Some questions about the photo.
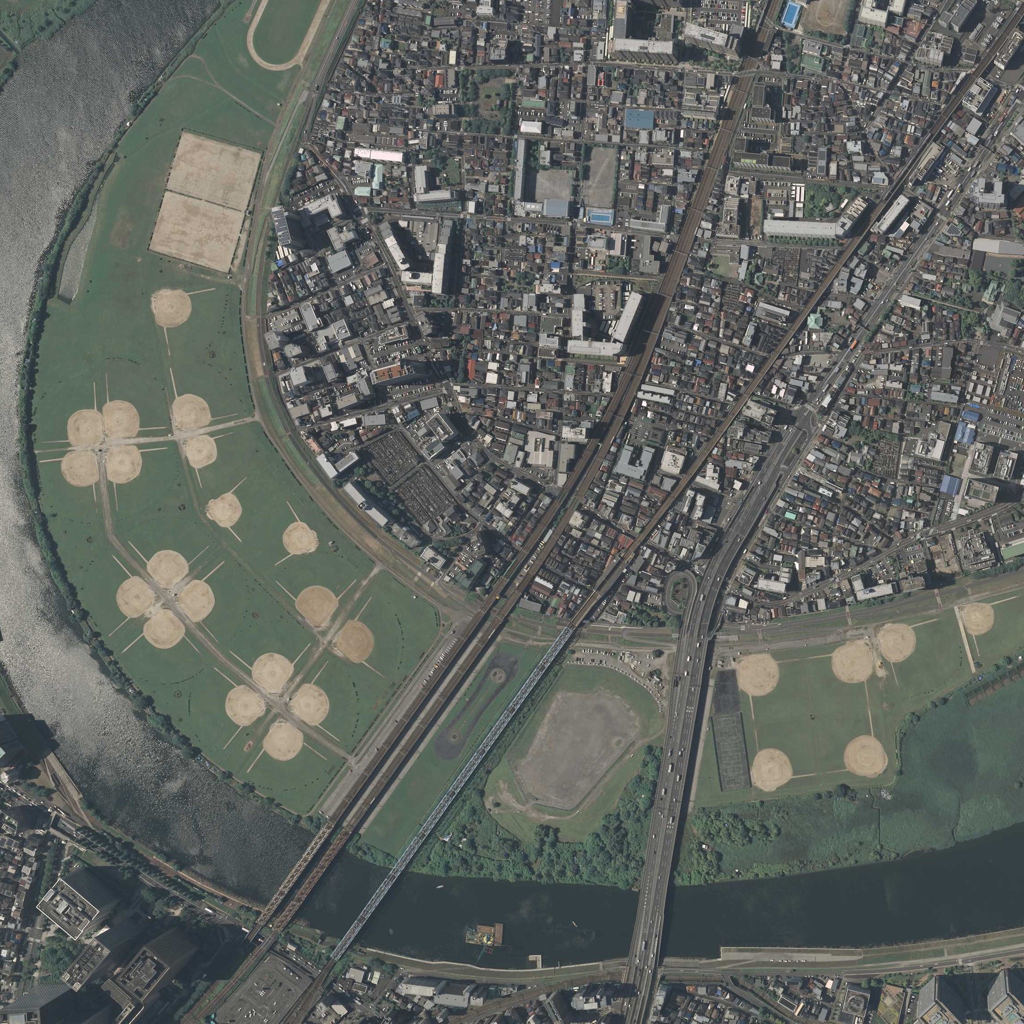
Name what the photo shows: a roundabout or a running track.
running track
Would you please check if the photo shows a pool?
Yes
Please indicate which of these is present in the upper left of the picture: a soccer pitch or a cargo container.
soccer pitch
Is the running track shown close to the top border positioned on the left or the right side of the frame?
left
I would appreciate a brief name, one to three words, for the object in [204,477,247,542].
baseball field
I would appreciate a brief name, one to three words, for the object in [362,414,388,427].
building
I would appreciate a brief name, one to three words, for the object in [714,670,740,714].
sports court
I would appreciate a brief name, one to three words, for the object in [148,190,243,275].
soccer field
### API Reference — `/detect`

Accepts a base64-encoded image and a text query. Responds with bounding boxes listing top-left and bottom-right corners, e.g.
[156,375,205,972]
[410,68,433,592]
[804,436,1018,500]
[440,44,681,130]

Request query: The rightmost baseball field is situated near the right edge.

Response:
[961,597,1016,655]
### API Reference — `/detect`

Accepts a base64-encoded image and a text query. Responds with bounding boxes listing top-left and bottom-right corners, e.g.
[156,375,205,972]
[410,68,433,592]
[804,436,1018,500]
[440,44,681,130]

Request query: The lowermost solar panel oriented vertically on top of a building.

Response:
[275,208,289,243]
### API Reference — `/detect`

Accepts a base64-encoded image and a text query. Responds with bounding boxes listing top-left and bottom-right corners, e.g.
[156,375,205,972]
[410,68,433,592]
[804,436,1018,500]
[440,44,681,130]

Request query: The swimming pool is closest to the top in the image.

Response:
[780,1,802,29]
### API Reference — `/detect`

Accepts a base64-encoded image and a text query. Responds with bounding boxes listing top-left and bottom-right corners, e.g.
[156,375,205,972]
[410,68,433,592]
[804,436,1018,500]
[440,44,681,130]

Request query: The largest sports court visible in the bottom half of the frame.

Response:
[711,712,752,792]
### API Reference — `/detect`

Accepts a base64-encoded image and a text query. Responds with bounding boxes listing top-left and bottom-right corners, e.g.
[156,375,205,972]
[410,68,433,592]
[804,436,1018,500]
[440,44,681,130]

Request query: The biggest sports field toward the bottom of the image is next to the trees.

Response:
[512,693,638,808]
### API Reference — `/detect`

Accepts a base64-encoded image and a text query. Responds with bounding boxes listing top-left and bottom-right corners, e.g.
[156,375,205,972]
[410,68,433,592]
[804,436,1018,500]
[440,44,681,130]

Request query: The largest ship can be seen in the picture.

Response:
[466,923,503,966]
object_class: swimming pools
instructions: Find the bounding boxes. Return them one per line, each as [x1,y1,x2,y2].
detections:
[586,209,614,226]
[780,1,802,29]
